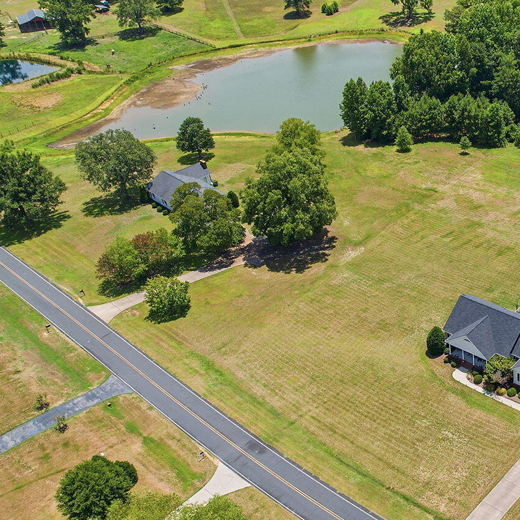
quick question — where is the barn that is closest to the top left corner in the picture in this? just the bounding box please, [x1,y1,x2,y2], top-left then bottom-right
[16,12,50,32]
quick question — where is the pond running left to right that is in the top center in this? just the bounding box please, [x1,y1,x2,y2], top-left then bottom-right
[106,40,413,139]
